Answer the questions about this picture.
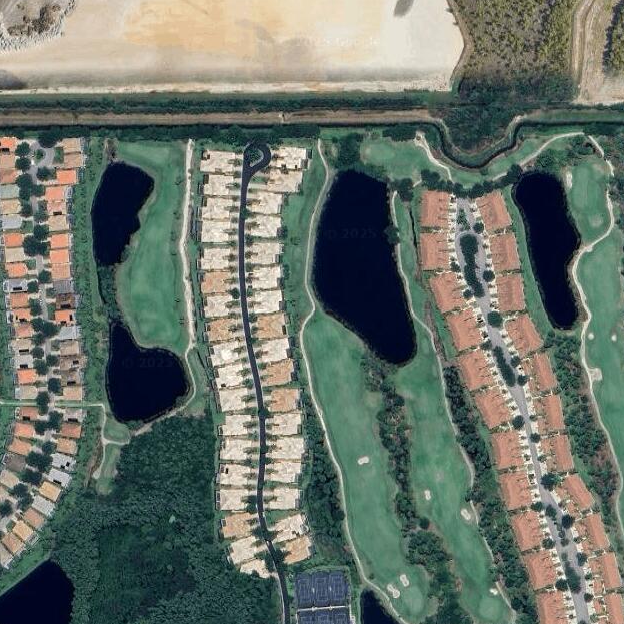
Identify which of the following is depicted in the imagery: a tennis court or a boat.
tennis court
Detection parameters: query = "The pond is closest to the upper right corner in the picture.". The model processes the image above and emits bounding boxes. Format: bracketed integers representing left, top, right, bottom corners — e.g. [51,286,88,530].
[514,172,579,328]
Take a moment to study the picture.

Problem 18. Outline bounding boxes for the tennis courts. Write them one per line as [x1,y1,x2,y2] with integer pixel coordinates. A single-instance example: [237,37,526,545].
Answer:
[299,610,315,624]
[331,606,350,624]
[314,608,332,624]
[329,569,349,605]
[294,572,313,608]
[312,570,332,607]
